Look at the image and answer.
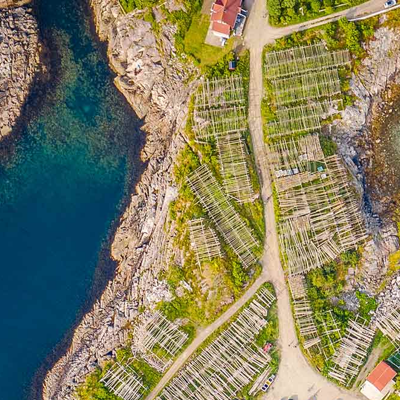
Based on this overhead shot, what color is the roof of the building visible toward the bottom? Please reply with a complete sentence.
The roof of the building visible toward the bottom is red.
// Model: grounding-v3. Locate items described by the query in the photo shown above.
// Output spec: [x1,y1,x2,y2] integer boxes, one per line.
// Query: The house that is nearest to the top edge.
[211,0,247,43]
